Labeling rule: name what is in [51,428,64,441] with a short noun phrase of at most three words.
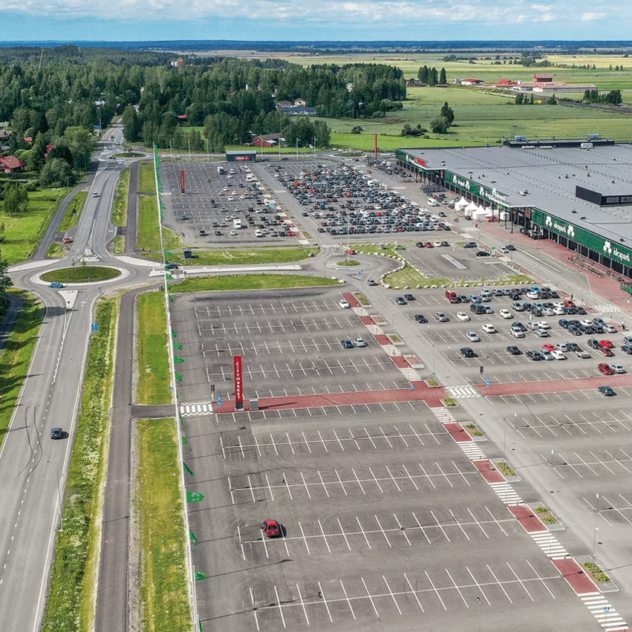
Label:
vehicle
